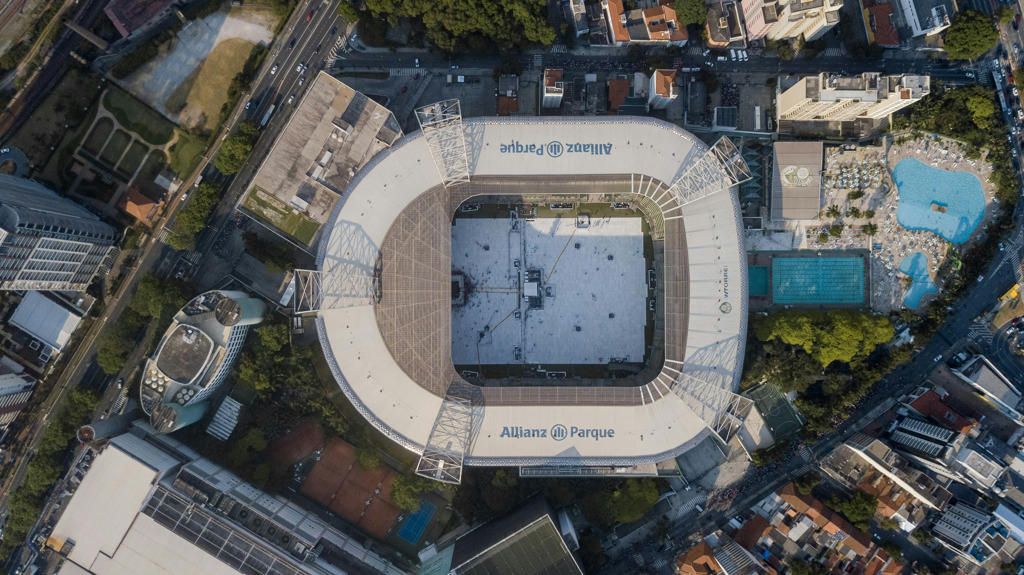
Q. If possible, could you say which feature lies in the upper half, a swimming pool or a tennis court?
swimming pool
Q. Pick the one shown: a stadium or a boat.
stadium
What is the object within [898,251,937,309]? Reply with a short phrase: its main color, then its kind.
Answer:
blue swimming pool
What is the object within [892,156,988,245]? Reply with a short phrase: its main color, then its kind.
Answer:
blue swimming pool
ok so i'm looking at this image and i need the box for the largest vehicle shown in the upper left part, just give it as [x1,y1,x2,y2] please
[259,103,276,125]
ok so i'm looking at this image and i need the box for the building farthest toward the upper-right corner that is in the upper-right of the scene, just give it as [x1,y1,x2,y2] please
[899,0,958,40]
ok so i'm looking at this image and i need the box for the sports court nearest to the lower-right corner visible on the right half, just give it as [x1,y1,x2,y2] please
[751,386,804,445]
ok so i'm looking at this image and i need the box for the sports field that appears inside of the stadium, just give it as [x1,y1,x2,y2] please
[452,204,654,378]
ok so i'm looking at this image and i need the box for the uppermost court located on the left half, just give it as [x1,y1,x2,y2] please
[269,420,329,465]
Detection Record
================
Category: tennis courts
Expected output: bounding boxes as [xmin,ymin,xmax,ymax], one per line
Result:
[331,460,386,524]
[301,437,355,504]
[392,495,447,555]
[269,420,329,465]
[359,473,401,538]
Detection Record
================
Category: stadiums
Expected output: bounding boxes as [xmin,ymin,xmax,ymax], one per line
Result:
[296,100,753,484]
